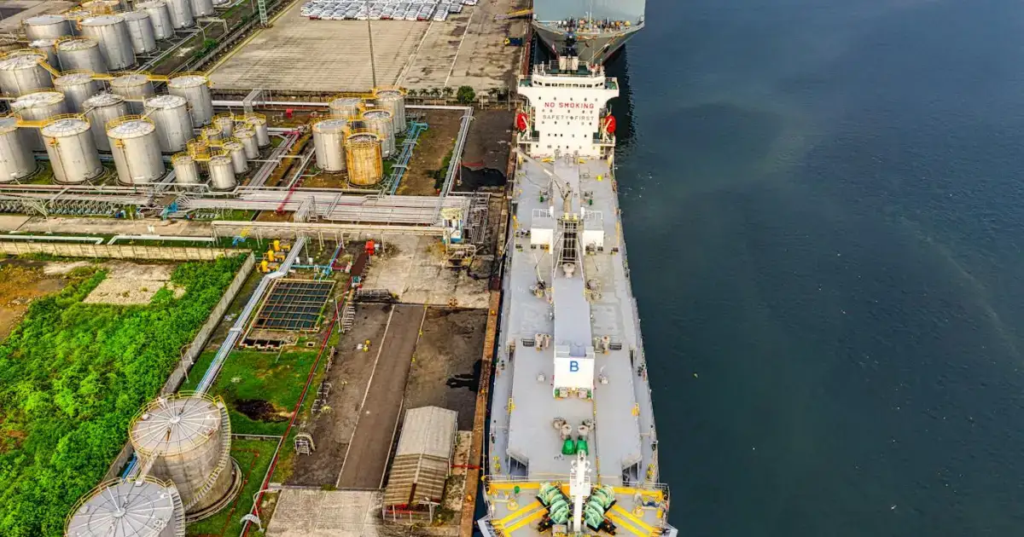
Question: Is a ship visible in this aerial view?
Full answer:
Yes, the picture does show a ship.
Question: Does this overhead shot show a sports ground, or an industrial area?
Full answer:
What you see here is an industrial area.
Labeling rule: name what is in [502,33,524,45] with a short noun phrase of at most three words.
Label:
vehicle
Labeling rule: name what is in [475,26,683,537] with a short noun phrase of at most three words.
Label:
ship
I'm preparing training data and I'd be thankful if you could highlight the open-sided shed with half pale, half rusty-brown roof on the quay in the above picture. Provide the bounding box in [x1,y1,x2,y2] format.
[382,405,457,527]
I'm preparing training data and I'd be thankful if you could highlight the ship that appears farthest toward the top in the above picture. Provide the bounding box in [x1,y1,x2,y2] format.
[517,0,646,109]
